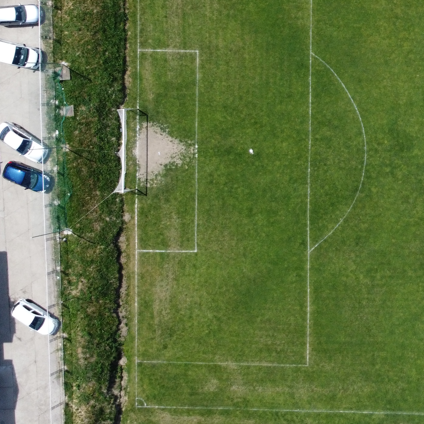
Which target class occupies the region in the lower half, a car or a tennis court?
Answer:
car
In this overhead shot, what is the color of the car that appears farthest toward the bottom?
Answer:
white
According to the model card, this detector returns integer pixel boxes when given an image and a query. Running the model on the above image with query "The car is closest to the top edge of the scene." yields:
[0,2,44,26]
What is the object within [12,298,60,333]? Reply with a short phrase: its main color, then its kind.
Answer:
white car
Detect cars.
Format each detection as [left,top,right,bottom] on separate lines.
[0,122,53,162]
[12,298,60,333]
[4,161,56,191]
[0,2,44,26]
[0,39,44,67]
